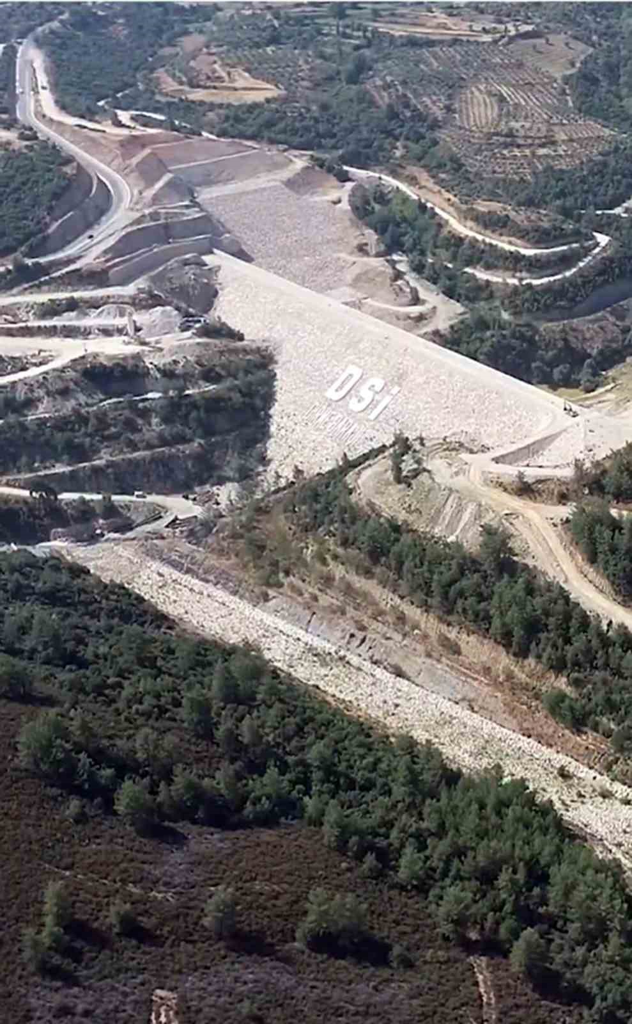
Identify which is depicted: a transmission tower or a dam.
dam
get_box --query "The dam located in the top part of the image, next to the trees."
[209,252,585,486]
